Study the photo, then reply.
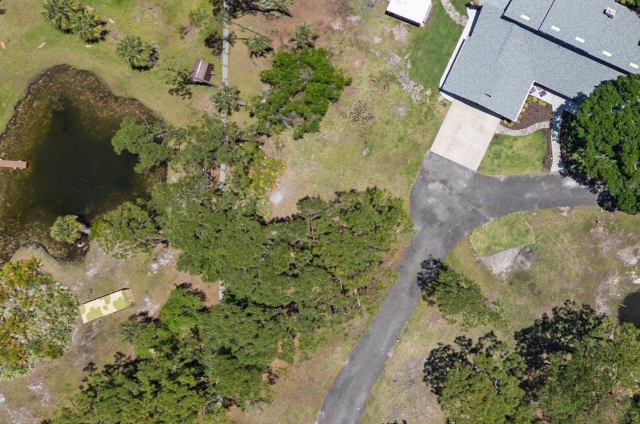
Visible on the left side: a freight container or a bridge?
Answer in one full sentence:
Visible on the left side is a freight container.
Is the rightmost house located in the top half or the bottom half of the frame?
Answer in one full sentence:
You can find the rightmost house in the top half.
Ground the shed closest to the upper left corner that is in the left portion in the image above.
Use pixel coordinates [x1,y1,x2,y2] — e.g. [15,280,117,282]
[190,59,219,80]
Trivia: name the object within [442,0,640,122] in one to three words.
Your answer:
house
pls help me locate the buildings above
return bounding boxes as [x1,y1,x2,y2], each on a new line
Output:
[442,0,640,122]
[385,0,434,30]
[190,59,219,80]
